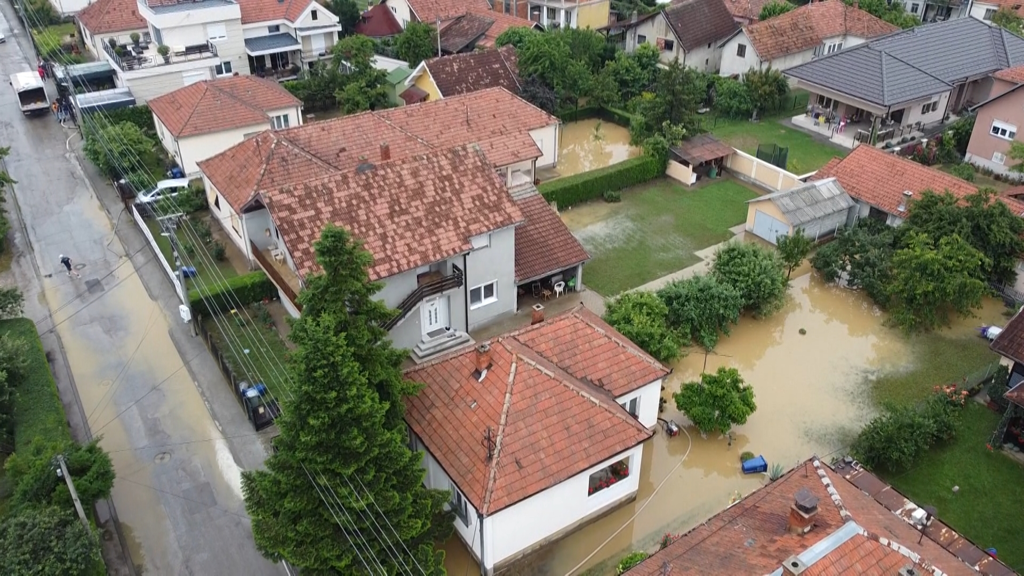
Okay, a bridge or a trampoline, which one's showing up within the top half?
trampoline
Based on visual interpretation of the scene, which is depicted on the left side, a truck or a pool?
truck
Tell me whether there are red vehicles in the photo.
No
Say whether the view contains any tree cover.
Yes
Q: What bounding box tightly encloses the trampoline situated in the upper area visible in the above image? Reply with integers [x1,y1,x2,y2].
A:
[761,141,793,171]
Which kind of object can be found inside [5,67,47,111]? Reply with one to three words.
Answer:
truck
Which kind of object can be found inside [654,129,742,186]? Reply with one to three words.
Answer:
shed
